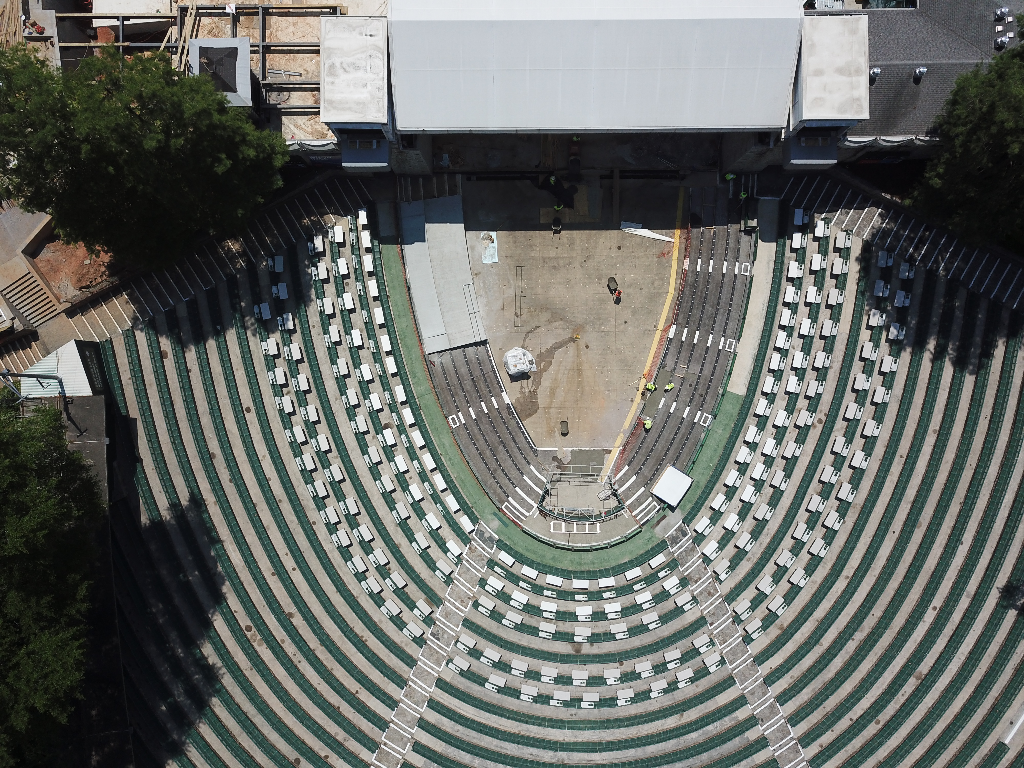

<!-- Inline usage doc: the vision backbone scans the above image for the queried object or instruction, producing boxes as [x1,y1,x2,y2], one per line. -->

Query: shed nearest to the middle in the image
[646,463,694,507]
